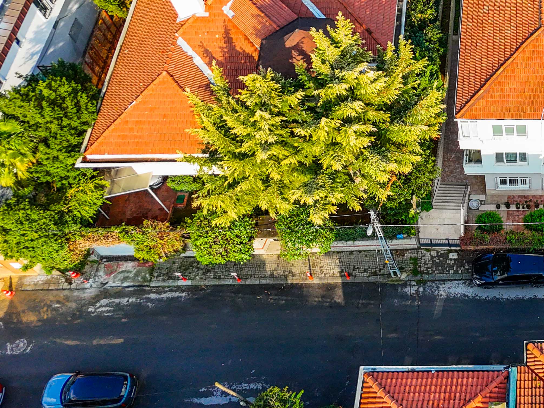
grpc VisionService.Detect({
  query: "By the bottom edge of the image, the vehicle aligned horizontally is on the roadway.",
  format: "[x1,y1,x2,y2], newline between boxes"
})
[40,364,144,408]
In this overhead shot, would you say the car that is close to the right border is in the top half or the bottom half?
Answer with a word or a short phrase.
bottom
